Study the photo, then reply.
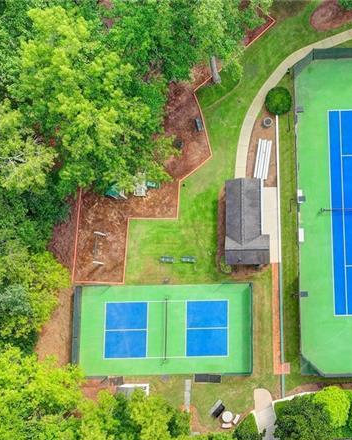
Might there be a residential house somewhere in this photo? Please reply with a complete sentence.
Yes, I can see a residential house in this picture.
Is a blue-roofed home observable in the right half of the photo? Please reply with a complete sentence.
No, in the right half of the photo there is no blue-roofed home.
